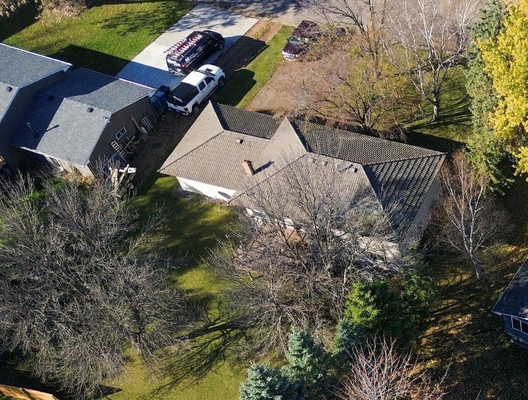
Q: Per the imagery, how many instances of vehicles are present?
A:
three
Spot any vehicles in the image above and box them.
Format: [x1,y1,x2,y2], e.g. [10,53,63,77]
[161,73,229,120]
[163,37,228,79]
[280,17,327,57]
